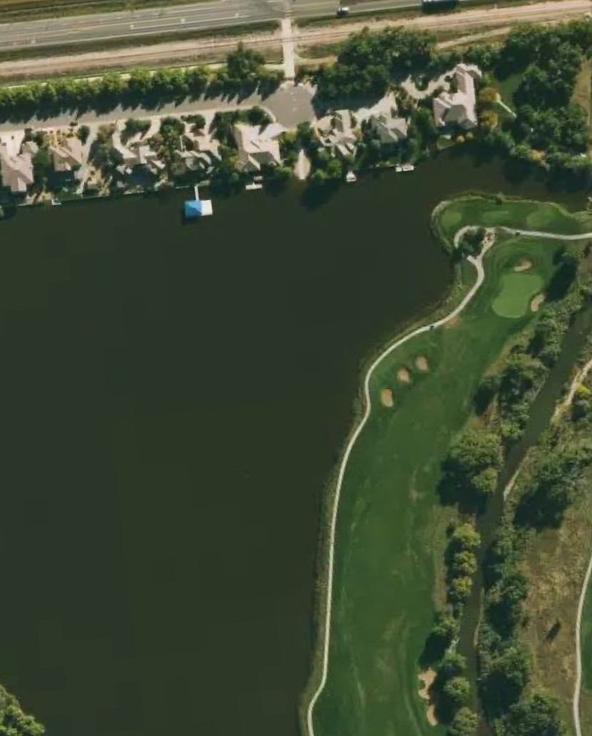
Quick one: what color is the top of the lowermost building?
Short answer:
blue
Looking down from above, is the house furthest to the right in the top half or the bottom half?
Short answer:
top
